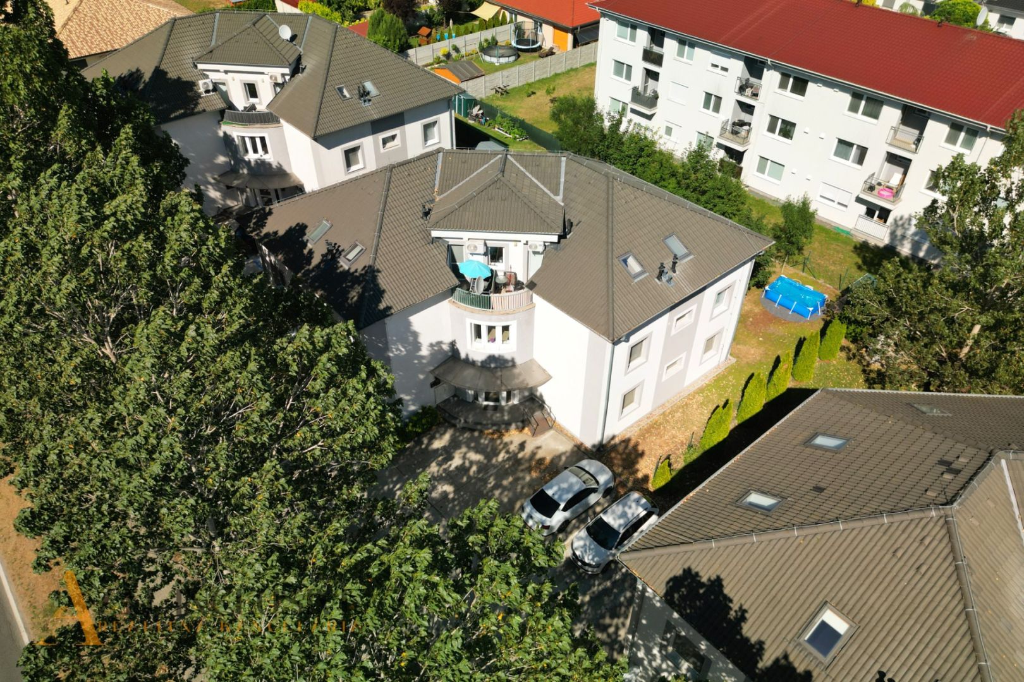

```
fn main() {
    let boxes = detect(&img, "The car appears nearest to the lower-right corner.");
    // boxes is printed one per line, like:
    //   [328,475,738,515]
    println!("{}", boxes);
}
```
[564,487,666,577]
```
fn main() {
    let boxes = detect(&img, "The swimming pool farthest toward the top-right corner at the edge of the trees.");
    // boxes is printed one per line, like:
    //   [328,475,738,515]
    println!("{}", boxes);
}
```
[755,274,832,324]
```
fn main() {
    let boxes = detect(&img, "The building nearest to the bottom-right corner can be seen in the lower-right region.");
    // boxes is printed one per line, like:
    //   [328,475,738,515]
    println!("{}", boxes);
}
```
[599,382,1024,682]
